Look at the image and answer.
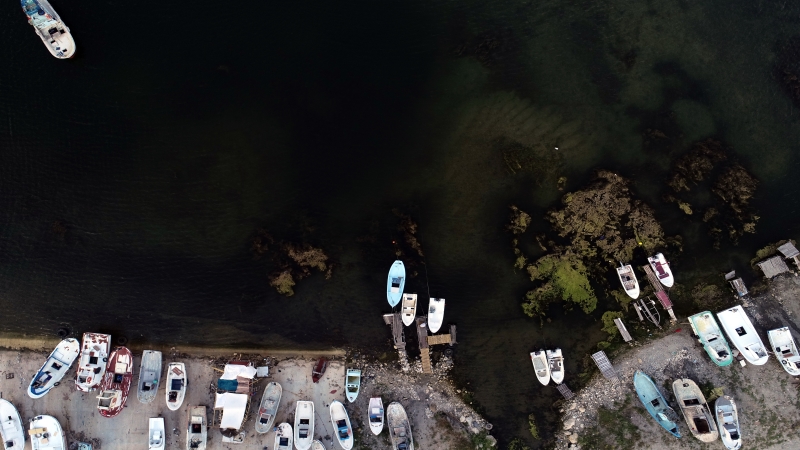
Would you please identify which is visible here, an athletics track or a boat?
boat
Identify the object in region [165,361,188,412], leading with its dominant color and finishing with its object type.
white boat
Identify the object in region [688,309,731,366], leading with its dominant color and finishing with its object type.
white boat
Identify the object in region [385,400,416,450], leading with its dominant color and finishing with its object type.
gray boat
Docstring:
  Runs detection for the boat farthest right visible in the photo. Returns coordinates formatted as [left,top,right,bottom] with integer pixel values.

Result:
[767,324,800,377]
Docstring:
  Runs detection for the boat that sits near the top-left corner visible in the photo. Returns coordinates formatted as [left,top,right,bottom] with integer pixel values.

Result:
[18,0,74,59]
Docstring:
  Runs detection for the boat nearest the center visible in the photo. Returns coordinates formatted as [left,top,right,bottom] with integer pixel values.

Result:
[387,261,405,308]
